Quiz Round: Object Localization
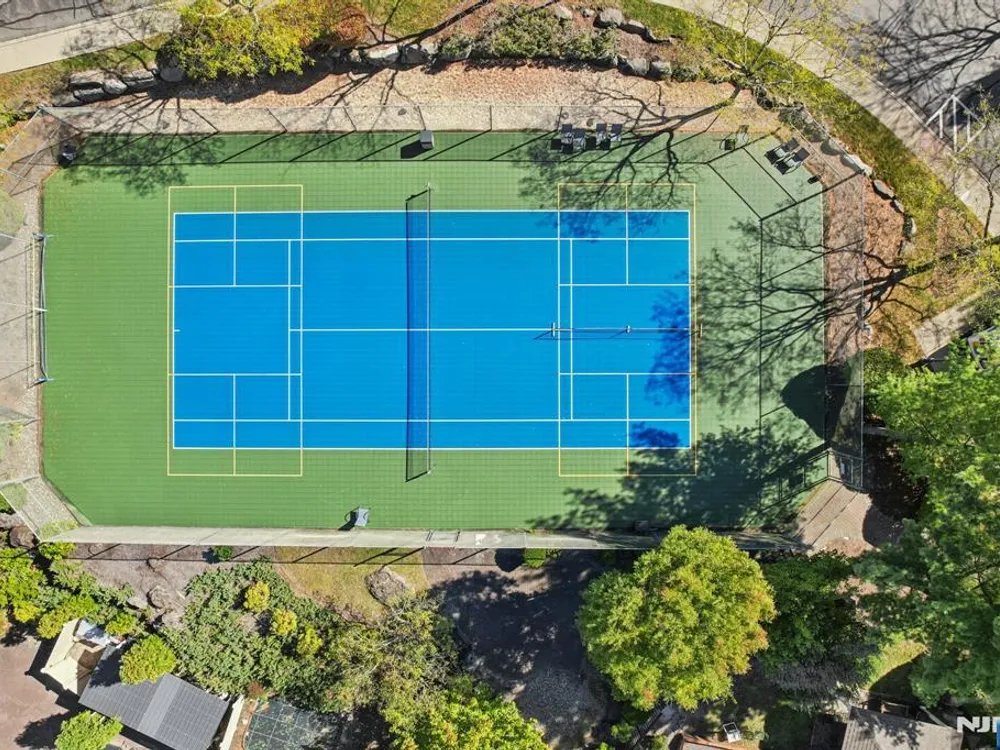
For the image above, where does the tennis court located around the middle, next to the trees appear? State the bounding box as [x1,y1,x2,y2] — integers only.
[38,133,823,527]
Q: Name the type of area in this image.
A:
sports ground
